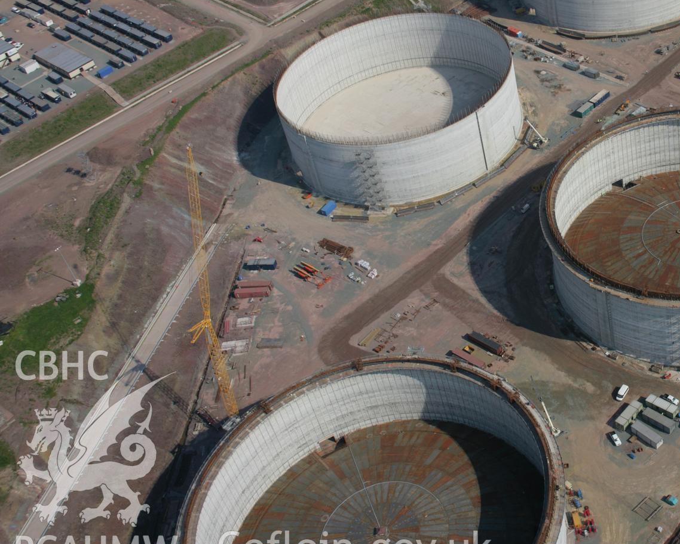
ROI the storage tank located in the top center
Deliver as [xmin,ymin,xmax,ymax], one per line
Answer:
[274,7,525,208]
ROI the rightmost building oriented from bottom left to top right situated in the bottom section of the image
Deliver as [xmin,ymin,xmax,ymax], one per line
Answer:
[613,398,644,435]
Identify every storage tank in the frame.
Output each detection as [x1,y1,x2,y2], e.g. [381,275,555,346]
[546,111,680,367]
[520,0,680,36]
[178,354,567,544]
[274,7,525,208]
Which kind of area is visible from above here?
industrial area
